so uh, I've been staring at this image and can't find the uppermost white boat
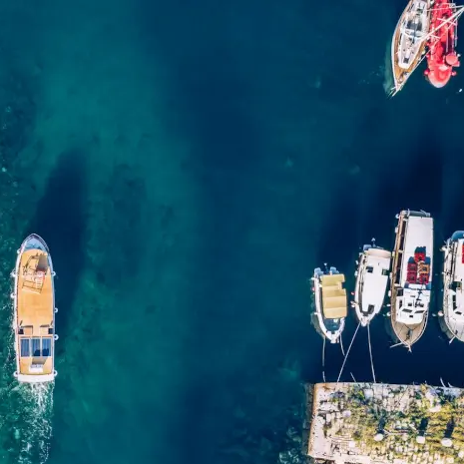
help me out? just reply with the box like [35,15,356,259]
[384,0,464,100]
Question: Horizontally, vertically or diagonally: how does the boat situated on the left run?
vertically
